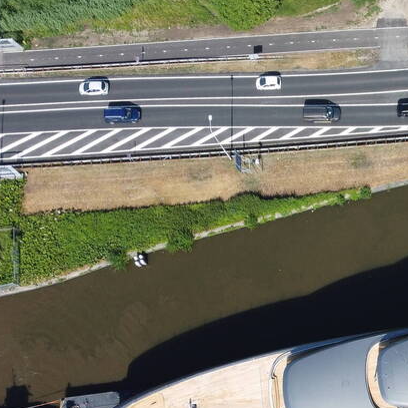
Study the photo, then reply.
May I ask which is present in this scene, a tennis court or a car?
car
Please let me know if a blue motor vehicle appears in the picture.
Yes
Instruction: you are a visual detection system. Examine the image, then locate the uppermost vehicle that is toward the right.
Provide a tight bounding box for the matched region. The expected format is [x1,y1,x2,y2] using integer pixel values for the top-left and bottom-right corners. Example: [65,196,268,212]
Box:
[256,73,283,90]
